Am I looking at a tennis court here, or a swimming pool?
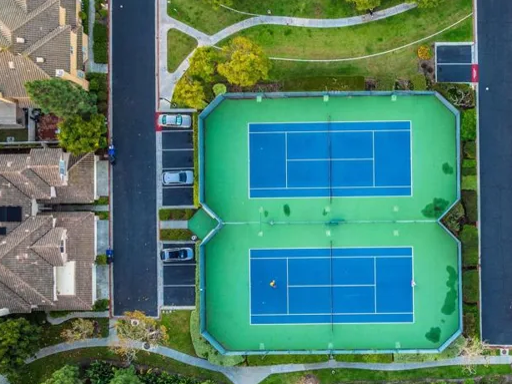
tennis court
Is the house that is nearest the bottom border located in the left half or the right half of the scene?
left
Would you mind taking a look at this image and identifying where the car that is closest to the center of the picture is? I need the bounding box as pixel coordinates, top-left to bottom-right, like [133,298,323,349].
[163,170,193,184]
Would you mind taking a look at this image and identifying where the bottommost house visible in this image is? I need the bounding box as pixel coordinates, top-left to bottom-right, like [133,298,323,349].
[0,149,98,316]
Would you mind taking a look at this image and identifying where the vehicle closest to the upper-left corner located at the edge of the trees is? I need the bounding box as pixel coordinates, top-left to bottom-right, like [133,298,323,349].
[159,114,193,129]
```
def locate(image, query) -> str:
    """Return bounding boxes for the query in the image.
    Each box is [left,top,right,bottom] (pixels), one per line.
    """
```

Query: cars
[163,170,193,184]
[159,114,193,129]
[163,246,195,261]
